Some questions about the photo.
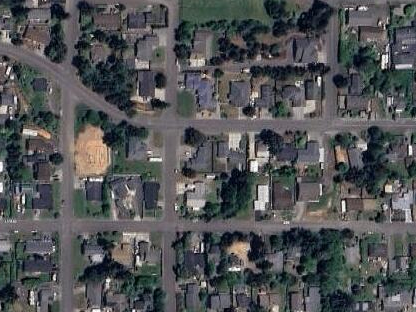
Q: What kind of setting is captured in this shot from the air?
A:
residential area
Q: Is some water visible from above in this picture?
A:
No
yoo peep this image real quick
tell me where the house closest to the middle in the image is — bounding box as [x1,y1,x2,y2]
[190,143,212,171]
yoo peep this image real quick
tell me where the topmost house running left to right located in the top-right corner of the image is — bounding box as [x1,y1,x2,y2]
[346,8,386,25]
